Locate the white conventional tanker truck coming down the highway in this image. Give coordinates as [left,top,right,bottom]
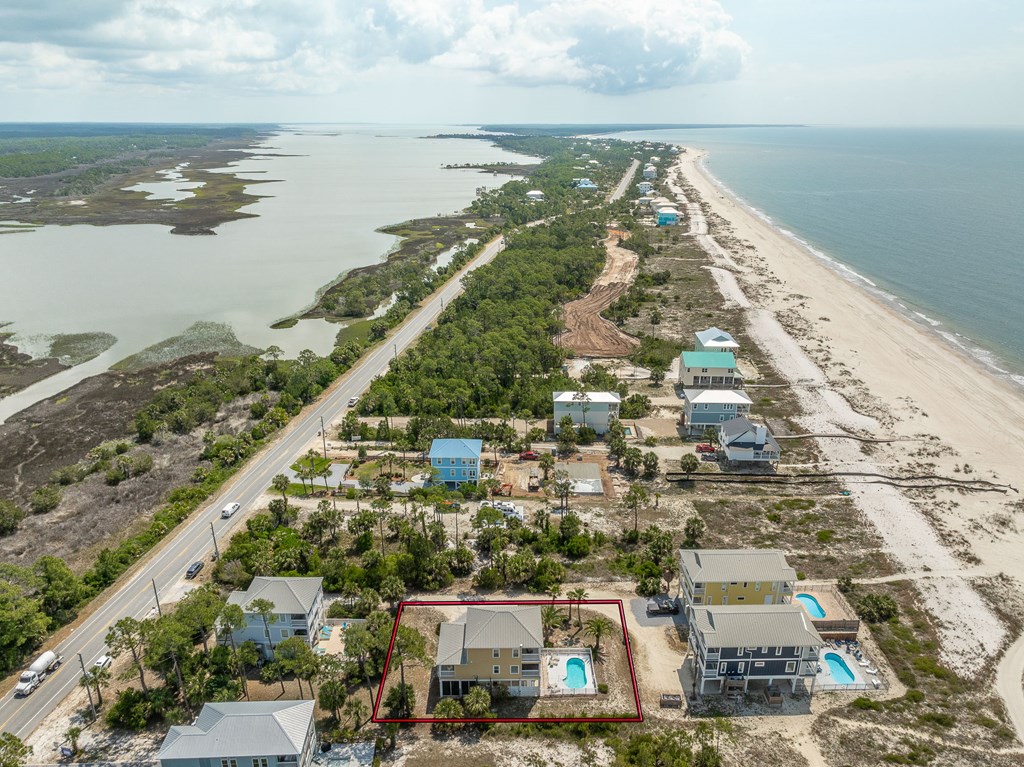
[9,652,68,701]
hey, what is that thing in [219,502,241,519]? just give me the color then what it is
white vehicle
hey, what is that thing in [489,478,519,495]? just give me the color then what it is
red work vehicle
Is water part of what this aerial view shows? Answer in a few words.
Yes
